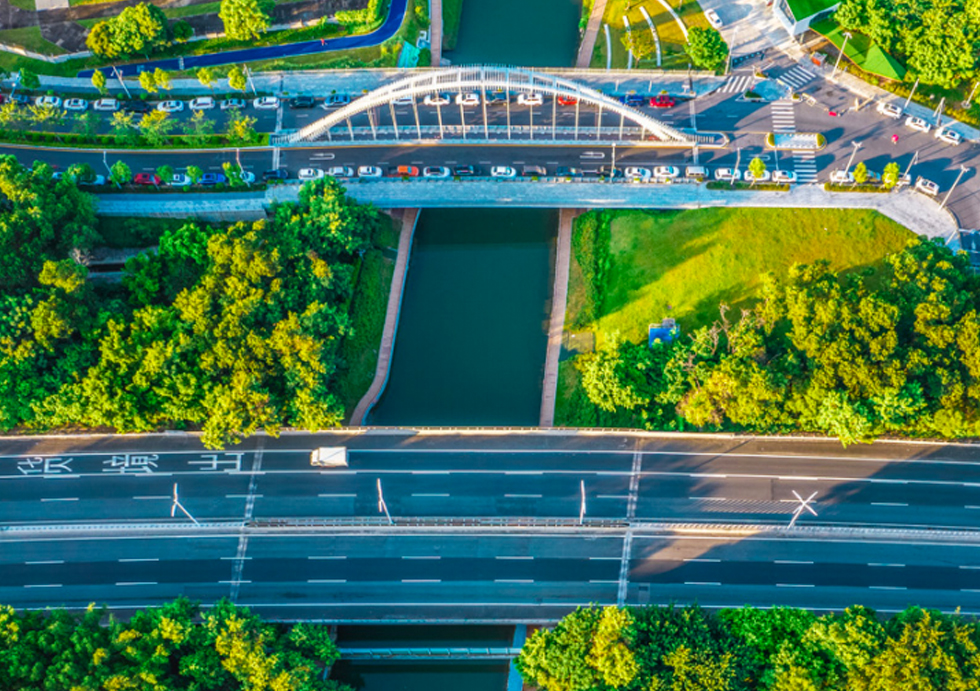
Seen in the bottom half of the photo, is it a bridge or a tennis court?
bridge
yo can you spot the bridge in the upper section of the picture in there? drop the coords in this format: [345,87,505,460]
[256,65,701,213]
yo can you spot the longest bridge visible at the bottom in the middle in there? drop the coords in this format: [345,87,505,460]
[225,426,645,626]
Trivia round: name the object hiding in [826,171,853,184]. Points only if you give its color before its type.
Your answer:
white vehicle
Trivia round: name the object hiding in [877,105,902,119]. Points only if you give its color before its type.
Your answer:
white vehicle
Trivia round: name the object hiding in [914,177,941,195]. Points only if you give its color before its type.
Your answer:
white car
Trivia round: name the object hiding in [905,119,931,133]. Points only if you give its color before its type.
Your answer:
white car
